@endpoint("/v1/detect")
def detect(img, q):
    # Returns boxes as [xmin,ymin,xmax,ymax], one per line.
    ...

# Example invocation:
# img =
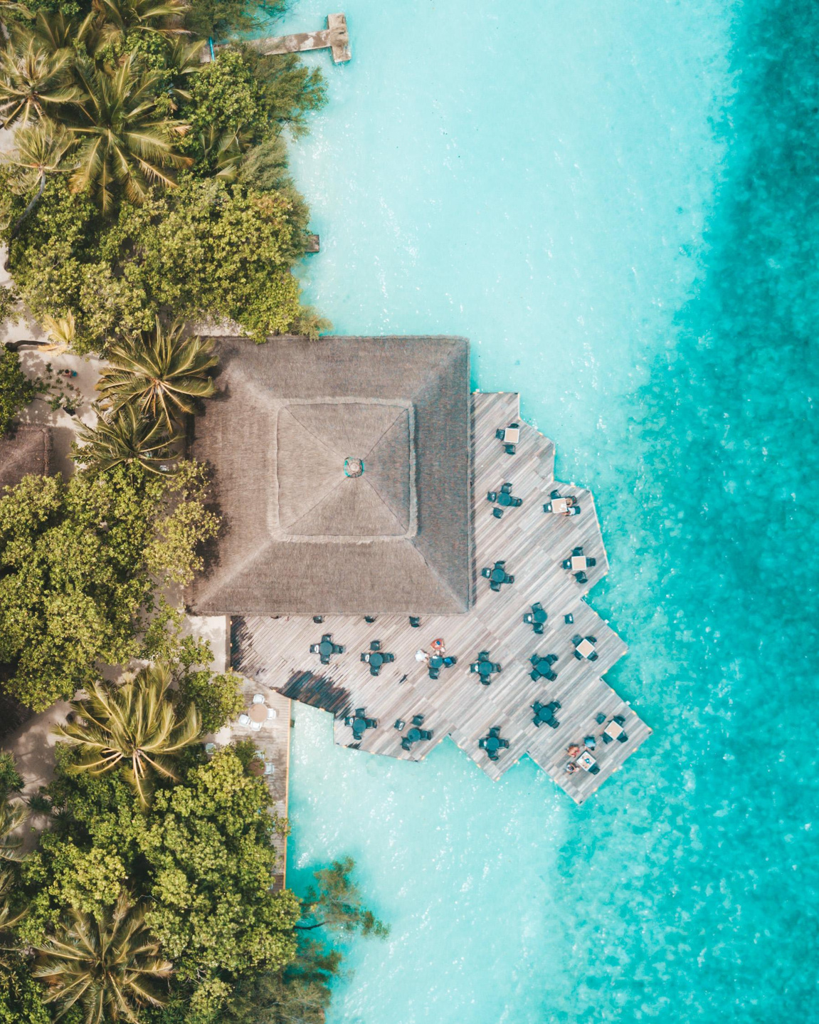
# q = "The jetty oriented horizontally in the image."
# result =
[194,13,351,68]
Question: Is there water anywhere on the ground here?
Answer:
Yes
